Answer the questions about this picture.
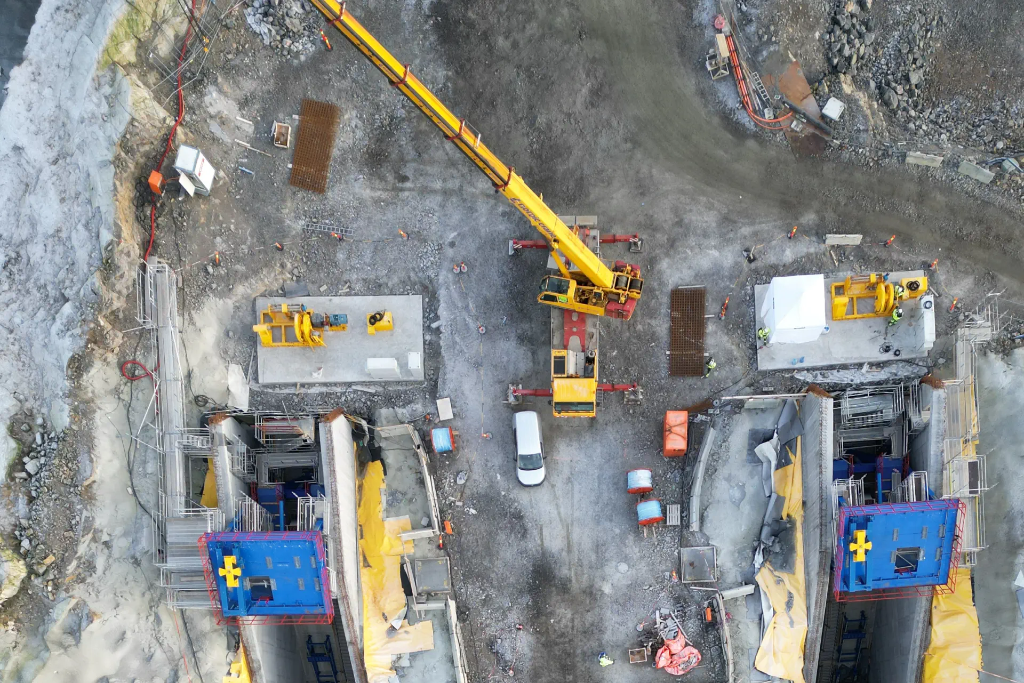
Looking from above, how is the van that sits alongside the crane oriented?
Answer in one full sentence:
The van that sits alongside the crane is laid out vertically.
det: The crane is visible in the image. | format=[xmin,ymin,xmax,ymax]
[304,0,647,418]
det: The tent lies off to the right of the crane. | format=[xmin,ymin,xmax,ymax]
[760,274,826,345]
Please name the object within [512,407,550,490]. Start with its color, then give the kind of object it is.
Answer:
white van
